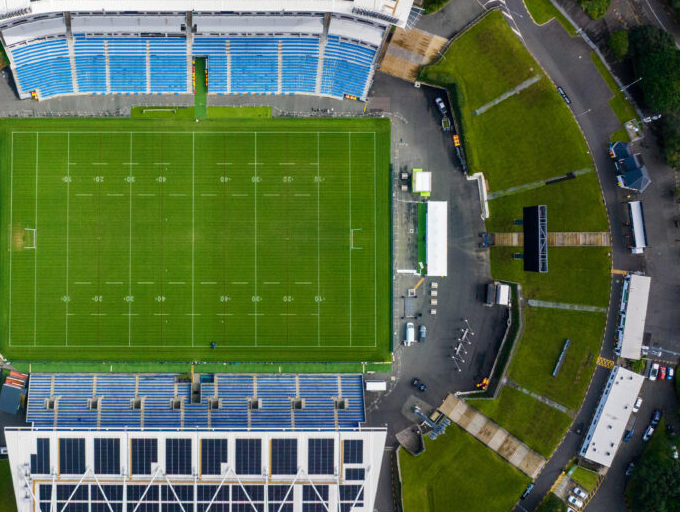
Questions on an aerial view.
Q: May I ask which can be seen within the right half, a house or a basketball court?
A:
house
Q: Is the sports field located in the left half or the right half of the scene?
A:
left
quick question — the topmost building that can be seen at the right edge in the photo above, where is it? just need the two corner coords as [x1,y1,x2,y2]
[609,142,651,192]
